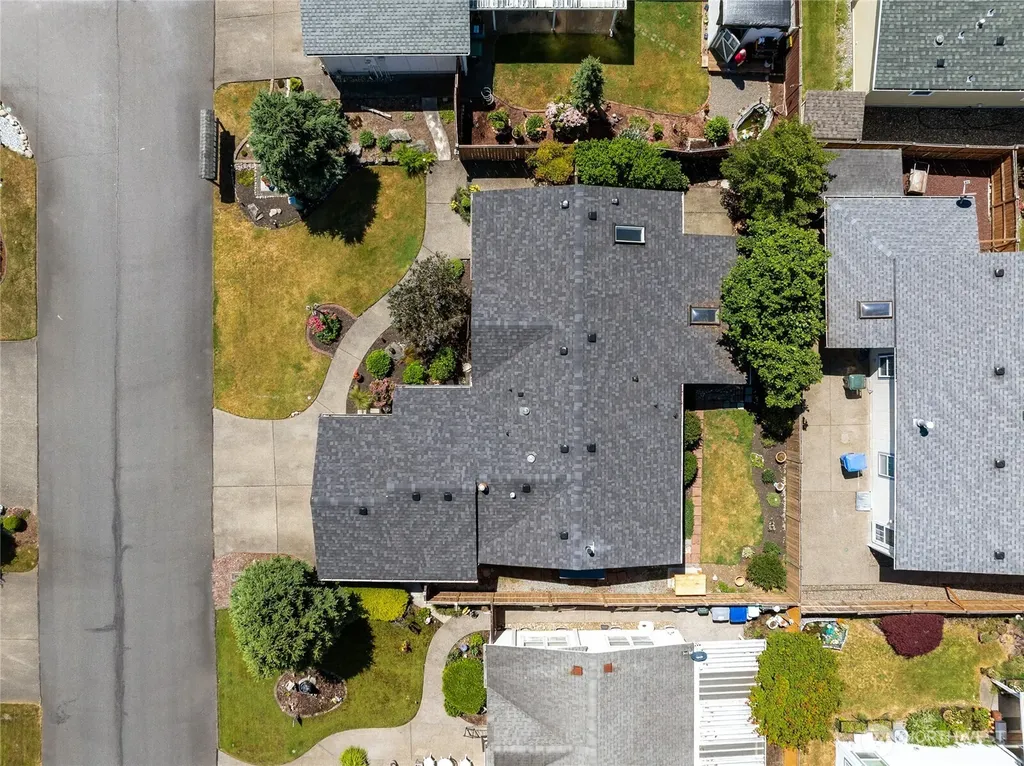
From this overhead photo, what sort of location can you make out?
residential area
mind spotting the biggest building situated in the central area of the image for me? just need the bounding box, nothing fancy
[311,184,750,584]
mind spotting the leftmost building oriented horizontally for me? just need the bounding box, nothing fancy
[300,0,470,75]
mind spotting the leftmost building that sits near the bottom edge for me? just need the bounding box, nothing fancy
[484,630,694,766]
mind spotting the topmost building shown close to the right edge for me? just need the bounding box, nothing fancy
[853,0,1024,107]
